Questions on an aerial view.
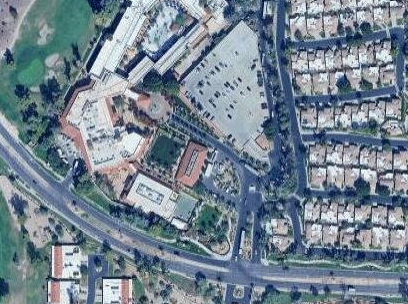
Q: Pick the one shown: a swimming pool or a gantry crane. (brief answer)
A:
swimming pool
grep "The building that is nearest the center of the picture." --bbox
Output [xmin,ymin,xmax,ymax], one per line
[173,141,209,189]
